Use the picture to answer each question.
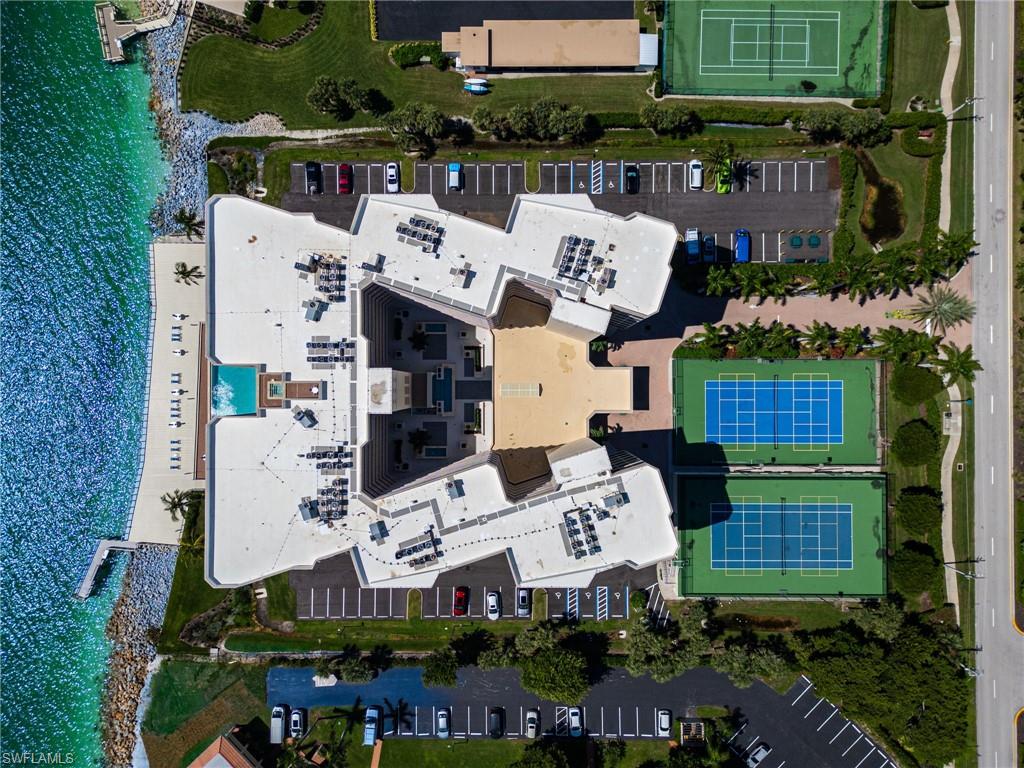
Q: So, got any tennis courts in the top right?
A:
Yes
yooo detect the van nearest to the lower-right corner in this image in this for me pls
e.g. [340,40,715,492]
[745,739,774,768]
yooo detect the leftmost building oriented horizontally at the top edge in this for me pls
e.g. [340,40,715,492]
[441,20,640,77]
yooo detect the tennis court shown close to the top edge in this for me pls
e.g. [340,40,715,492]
[669,0,881,88]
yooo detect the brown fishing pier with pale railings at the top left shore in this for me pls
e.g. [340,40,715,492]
[94,0,179,64]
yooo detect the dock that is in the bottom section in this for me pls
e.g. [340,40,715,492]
[74,540,138,599]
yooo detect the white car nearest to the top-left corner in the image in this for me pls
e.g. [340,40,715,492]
[386,163,399,193]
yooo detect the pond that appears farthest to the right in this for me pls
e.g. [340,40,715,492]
[859,148,904,242]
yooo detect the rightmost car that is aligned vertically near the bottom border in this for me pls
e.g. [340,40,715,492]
[658,707,672,737]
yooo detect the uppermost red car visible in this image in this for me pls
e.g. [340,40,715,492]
[338,164,352,194]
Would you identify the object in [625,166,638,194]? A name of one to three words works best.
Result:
vehicle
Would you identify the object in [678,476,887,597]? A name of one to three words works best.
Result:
tennis court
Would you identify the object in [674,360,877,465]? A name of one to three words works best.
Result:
tennis court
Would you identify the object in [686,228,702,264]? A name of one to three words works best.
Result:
vehicle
